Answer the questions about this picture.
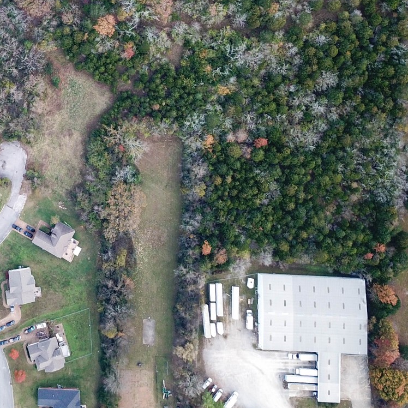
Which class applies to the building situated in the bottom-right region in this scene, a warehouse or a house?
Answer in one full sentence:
The building situated in the bottom-right region appears to be a warehouse.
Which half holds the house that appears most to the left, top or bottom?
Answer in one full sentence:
It is in the bottom half that the house that appears most to the left appears.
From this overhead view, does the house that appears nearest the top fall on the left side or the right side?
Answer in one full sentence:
The house that appears nearest the top sits on the left side.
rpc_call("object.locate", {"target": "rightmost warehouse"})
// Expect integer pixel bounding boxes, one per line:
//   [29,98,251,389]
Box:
[256,273,368,404]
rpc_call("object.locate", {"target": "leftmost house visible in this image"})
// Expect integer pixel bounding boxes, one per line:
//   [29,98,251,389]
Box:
[5,267,41,305]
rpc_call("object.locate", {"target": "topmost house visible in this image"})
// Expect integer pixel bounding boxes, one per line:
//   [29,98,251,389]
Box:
[32,223,82,262]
